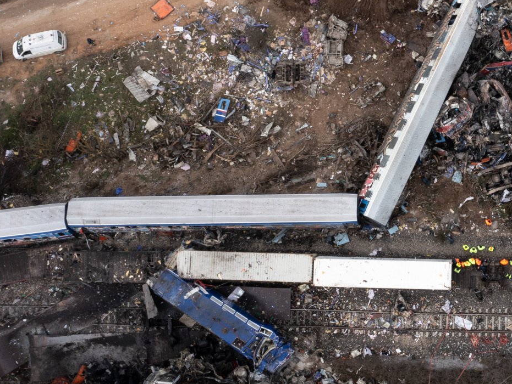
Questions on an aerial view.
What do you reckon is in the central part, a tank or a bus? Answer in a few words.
bus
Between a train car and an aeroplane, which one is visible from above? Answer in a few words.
train car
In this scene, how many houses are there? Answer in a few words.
0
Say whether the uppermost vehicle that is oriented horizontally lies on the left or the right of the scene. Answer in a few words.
left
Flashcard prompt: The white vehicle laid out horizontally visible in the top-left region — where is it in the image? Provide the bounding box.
[16,32,72,58]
